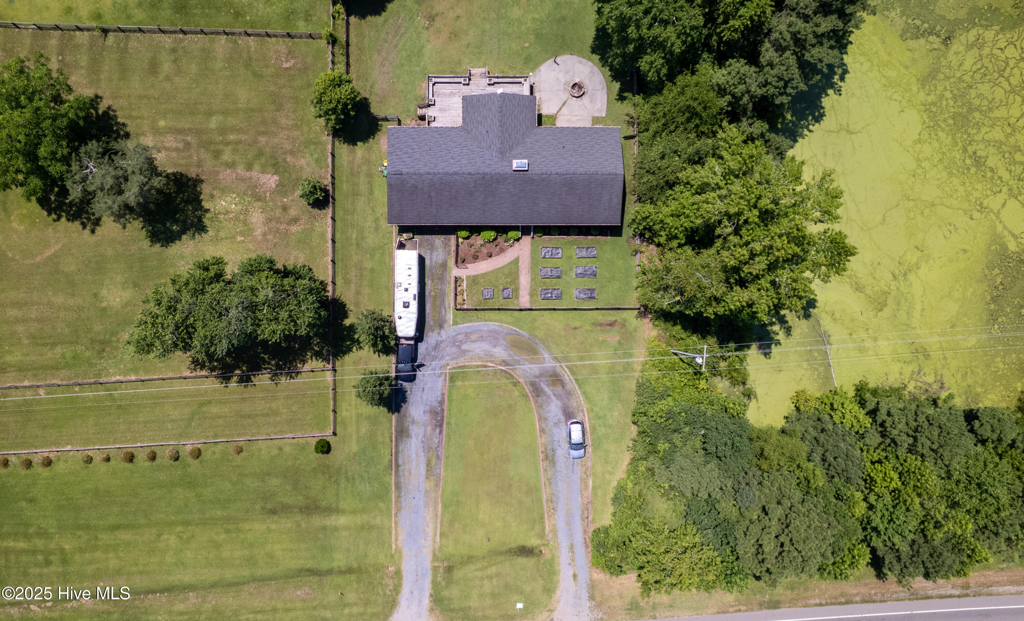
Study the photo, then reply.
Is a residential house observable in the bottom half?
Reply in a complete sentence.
No, there's no residential house to be seen in the bottom half.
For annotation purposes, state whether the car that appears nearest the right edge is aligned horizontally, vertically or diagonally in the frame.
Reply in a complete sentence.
The car that appears nearest the right edge runs vertically in the image.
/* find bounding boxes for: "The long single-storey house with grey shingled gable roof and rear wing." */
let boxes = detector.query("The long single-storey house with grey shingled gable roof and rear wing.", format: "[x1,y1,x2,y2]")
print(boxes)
[384,92,623,226]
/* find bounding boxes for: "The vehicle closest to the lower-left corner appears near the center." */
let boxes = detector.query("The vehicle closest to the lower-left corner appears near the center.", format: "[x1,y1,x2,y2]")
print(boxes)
[391,328,418,382]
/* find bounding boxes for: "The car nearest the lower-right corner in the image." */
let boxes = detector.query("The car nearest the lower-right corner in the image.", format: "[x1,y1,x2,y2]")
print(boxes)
[566,418,586,460]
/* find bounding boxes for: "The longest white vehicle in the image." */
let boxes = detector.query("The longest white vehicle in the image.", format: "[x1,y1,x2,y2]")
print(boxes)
[394,239,422,336]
